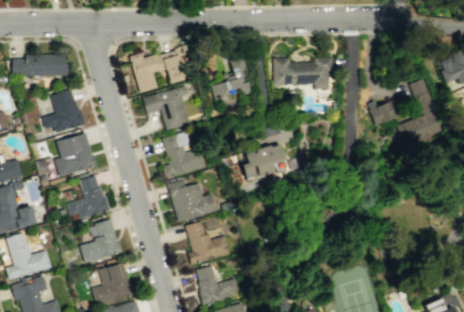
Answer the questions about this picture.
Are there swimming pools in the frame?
Yes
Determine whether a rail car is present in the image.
No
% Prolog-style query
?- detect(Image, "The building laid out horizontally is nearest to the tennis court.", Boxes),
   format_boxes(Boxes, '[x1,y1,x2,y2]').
[426,295,462,312]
